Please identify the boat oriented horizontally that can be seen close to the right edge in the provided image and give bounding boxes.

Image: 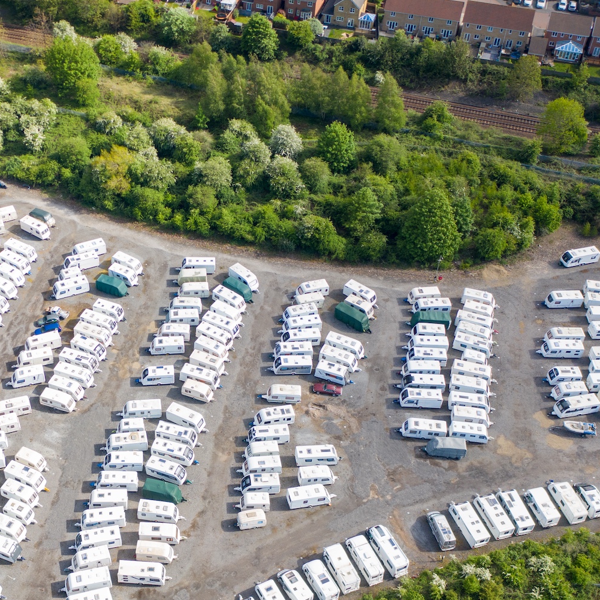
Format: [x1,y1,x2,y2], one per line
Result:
[561,418,600,434]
